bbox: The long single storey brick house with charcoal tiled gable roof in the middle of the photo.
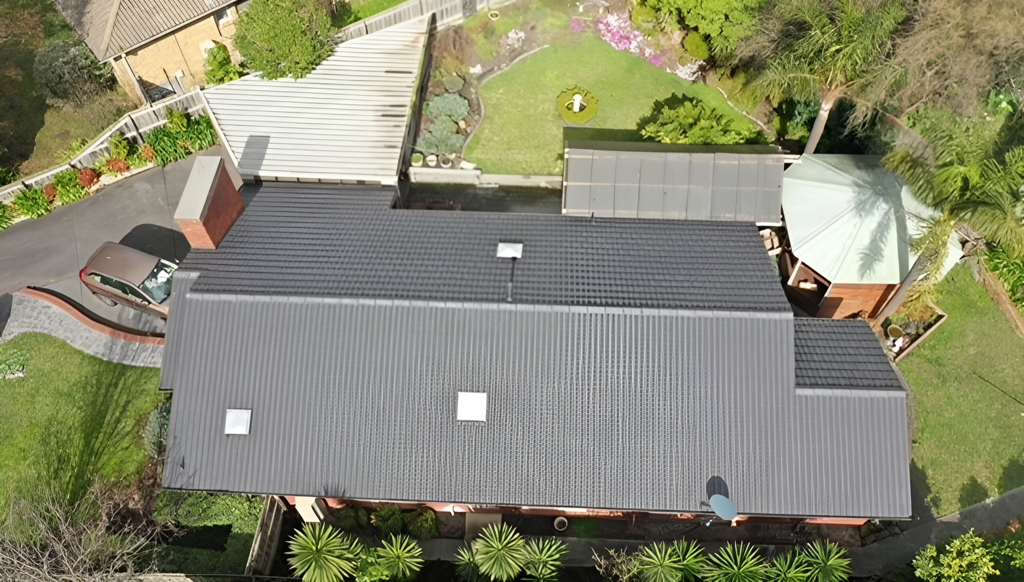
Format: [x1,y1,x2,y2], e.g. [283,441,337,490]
[155,155,914,525]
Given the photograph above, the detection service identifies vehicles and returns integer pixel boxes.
[78,237,178,319]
